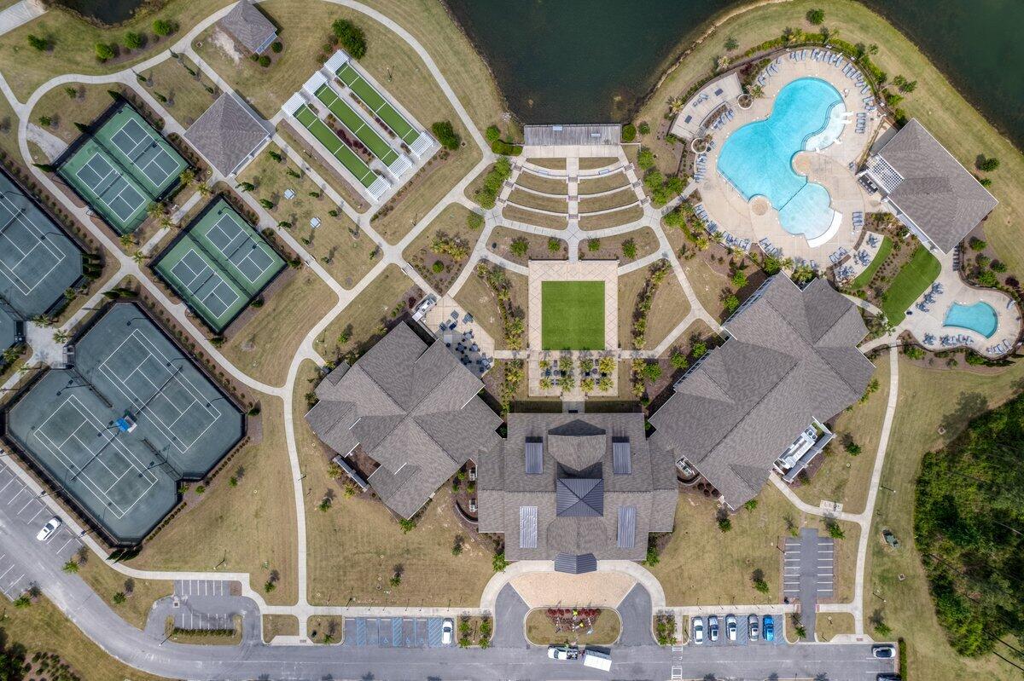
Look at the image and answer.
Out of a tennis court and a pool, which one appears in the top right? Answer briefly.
pool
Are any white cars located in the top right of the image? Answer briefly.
No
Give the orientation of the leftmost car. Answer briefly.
at an angle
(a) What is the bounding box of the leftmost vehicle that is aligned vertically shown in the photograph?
[441,620,453,645]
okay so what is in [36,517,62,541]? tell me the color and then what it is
white car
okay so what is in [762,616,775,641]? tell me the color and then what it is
blue vehicle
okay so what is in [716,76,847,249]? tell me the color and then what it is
blue swimming pool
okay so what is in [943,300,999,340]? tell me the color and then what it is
blue swimming pool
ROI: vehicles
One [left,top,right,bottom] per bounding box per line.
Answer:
[441,620,453,645]
[762,616,775,641]
[871,645,894,658]
[692,618,703,644]
[36,517,62,541]
[875,673,900,681]
[707,616,719,641]
[725,615,737,641]
[747,615,759,641]
[548,647,578,661]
